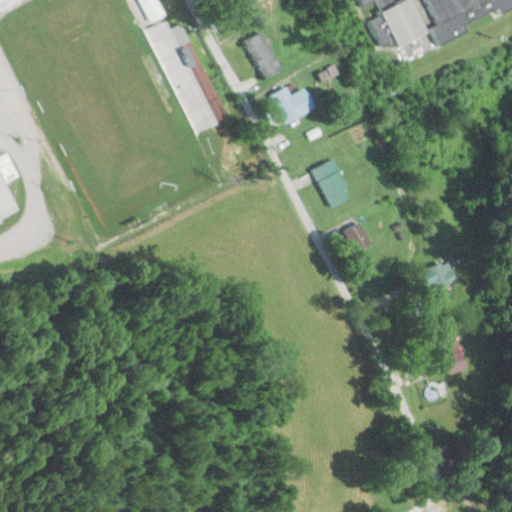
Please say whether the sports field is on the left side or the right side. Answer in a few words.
left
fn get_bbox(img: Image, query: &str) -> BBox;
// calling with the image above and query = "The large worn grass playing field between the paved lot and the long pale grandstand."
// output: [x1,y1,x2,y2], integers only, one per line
[0,0,219,241]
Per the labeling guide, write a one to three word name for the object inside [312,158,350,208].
house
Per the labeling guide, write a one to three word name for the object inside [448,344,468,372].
house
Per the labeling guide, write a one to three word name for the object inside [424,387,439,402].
swimming pool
